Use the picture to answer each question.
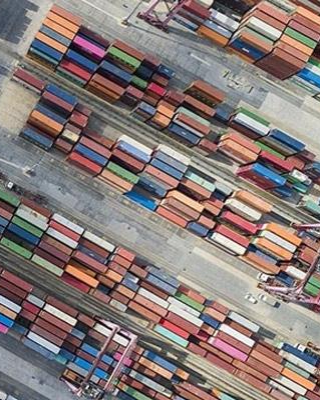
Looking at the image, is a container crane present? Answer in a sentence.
Yes, a container crane is visible in the scene.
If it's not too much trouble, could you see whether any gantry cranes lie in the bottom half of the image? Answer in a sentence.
Yes, a gantry crane appears in the bottom half of the image.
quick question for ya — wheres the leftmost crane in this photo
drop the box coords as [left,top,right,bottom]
[55,309,144,400]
